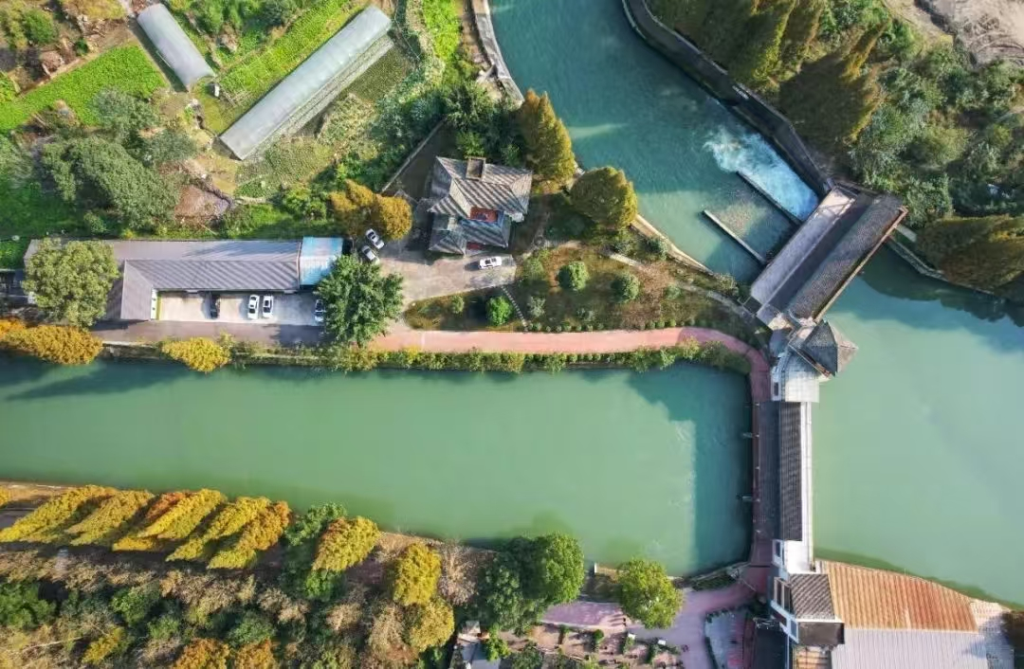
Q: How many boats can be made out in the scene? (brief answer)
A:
zero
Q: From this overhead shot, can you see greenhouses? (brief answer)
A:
Yes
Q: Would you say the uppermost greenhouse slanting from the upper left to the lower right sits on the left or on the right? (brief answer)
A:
left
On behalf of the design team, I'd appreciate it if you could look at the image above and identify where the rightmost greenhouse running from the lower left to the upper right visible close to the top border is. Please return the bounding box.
[220,2,388,158]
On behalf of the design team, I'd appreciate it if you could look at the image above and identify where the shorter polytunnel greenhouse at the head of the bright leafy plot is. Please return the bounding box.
[138,0,211,86]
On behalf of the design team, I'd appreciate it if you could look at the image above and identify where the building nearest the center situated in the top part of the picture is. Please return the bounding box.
[428,156,532,255]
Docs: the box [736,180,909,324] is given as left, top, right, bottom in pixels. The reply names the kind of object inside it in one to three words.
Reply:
building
